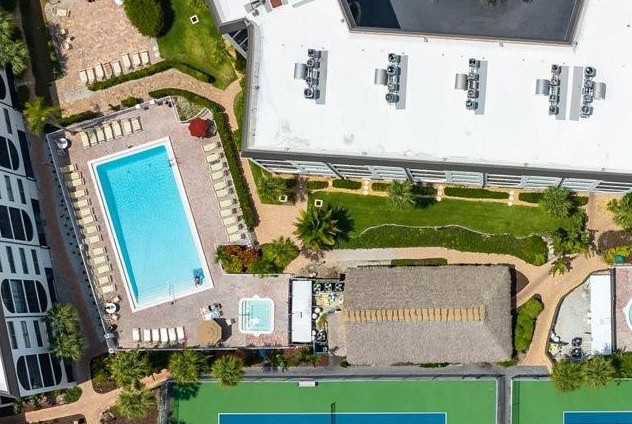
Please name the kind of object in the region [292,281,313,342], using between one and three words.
shed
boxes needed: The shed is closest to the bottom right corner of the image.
[590,275,611,354]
